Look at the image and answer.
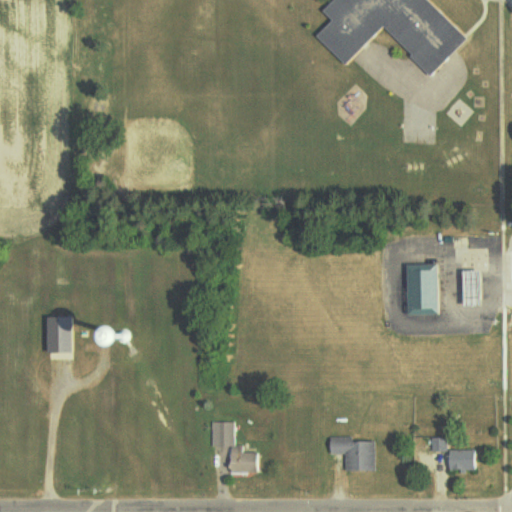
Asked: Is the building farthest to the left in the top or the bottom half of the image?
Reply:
bottom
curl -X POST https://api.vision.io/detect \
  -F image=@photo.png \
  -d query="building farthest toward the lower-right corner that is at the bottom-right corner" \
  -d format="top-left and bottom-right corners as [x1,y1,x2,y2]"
[448,450,474,473]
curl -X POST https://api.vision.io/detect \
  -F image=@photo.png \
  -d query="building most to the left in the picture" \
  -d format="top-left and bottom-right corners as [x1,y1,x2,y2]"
[47,317,74,352]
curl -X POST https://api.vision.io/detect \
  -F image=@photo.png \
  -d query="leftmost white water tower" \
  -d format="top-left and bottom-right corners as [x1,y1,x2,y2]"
[92,327,132,349]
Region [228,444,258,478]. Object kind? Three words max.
house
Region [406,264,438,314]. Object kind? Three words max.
building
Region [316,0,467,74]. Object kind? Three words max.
building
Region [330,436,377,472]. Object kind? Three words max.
house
